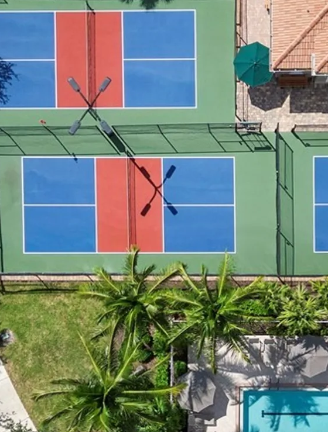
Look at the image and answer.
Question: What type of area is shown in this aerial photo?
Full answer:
This image shows a sports ground.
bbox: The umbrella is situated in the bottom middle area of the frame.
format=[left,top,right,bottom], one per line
[176,368,218,410]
